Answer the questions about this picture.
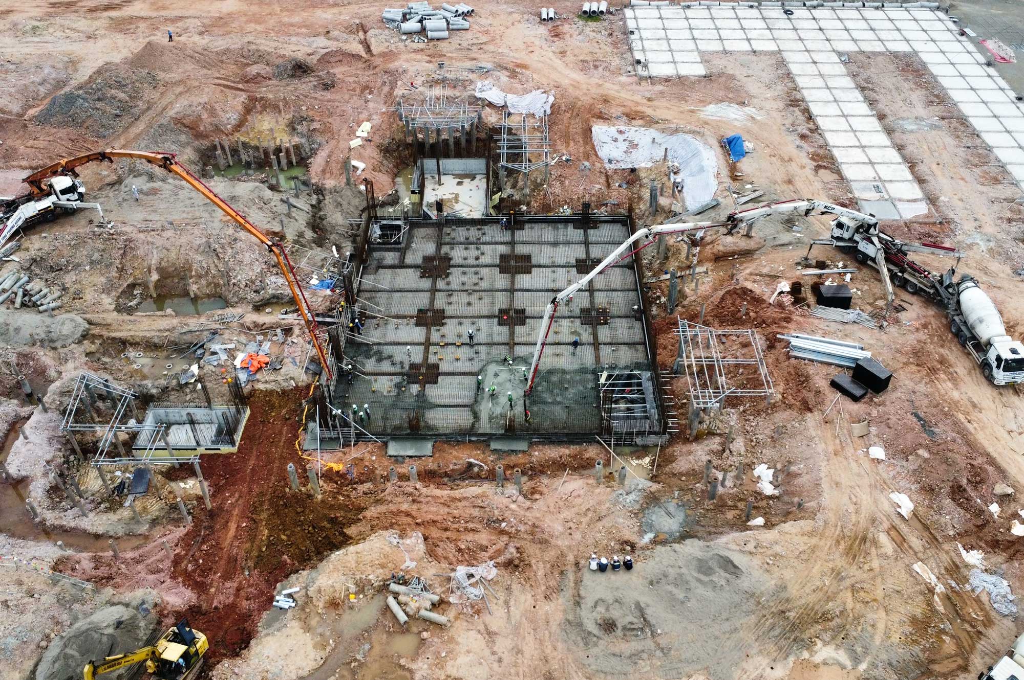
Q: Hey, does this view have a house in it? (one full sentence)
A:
No, there is no house in the image.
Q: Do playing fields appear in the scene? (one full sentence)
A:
No, the frame has no playing field in it.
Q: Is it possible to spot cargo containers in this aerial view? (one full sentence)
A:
No, there's no cargo container here.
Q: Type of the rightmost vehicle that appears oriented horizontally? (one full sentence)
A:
The rightmost vehicle that appears oriented horizontally is a truck.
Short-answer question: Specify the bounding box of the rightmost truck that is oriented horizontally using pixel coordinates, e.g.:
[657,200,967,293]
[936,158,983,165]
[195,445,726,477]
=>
[524,197,966,425]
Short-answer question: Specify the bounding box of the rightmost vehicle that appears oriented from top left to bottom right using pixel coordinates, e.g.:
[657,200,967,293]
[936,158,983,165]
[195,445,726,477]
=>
[948,277,1024,380]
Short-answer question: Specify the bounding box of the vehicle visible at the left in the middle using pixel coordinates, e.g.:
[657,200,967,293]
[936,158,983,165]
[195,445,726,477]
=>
[0,148,336,399]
